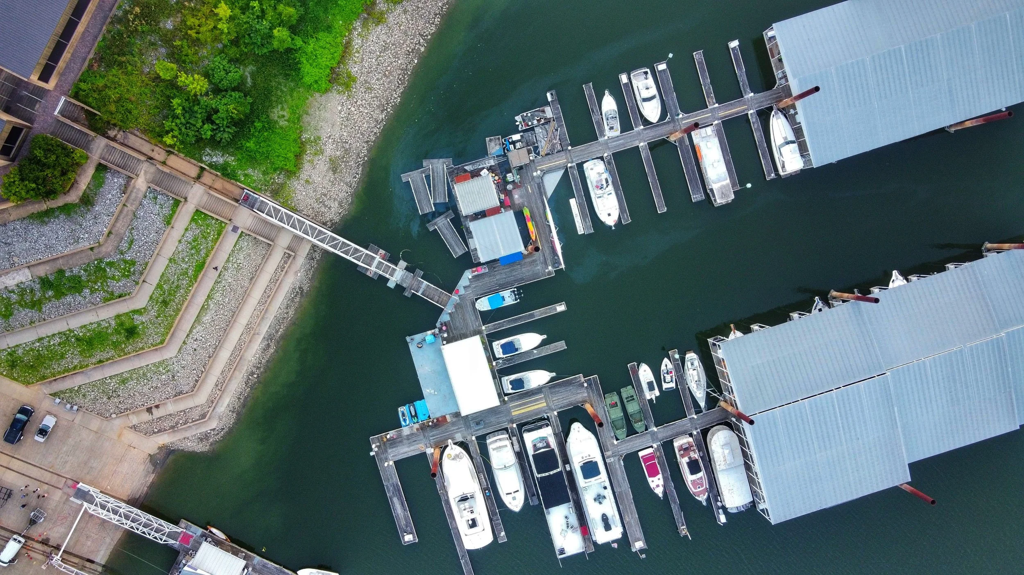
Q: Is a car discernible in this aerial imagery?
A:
Yes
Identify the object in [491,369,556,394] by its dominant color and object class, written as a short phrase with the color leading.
white boat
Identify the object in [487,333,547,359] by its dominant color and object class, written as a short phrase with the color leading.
white boat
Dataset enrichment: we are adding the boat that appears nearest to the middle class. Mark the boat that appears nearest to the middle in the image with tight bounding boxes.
[476,286,523,327]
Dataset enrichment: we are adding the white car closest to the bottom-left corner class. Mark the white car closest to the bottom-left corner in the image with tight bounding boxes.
[0,536,25,569]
